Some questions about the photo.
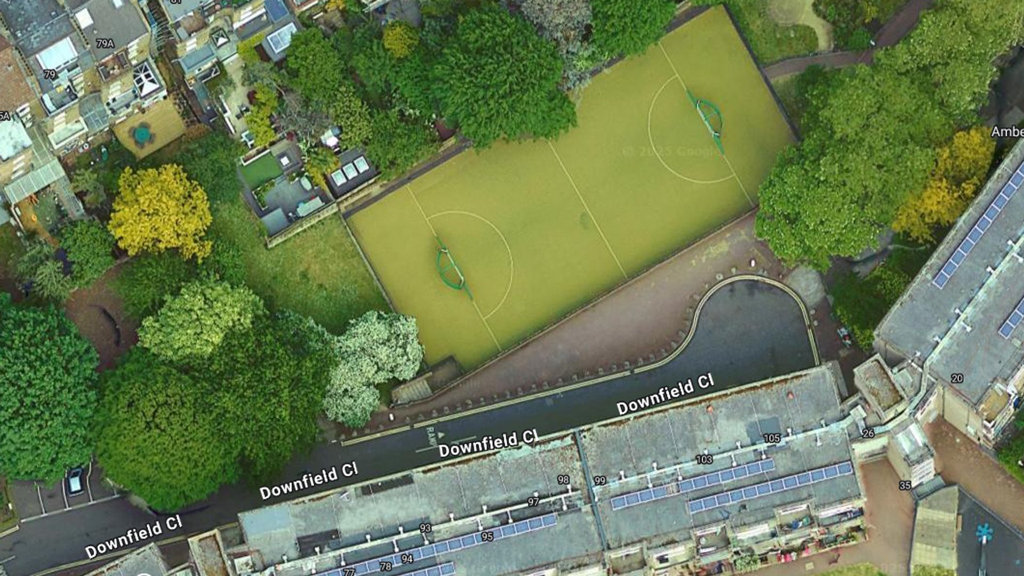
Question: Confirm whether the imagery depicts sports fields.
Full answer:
Yes, I can see a sports field in this picture.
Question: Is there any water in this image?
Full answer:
No, the picture contains no water.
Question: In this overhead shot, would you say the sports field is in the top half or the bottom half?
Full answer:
The sports field sits in the top half of the picture.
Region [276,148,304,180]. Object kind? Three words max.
shed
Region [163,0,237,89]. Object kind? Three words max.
house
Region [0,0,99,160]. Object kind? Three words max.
house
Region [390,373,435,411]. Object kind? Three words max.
shed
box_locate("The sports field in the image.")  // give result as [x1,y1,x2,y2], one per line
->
[346,6,811,369]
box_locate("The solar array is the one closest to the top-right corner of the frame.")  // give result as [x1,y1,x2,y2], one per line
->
[933,154,1024,285]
